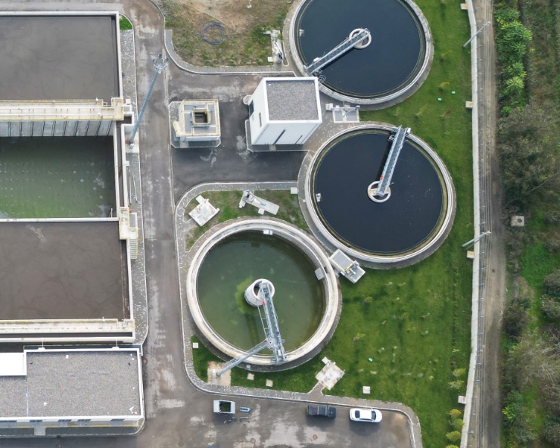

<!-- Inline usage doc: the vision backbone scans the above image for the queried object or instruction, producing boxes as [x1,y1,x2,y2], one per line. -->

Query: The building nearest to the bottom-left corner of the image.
[0,344,144,435]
